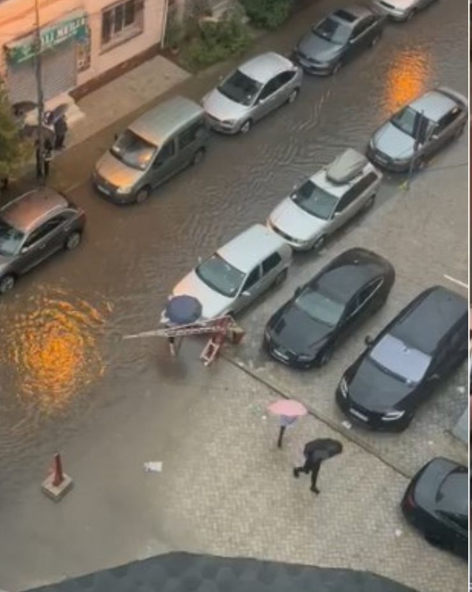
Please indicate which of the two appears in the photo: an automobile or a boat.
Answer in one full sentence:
Looking from above, you can make out an automobile.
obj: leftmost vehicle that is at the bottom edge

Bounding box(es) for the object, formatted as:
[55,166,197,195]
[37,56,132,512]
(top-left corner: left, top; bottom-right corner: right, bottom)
[395,469,471,568]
